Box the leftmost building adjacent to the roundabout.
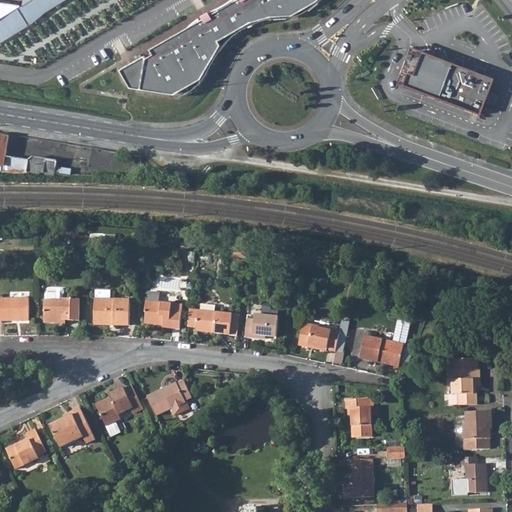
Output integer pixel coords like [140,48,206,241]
[118,0,318,94]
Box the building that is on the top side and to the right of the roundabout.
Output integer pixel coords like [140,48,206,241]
[396,46,494,117]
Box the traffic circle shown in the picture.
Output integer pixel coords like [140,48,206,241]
[224,36,340,152]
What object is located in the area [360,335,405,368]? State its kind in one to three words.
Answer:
house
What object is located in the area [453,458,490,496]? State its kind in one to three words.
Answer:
house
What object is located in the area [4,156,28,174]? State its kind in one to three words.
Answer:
building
